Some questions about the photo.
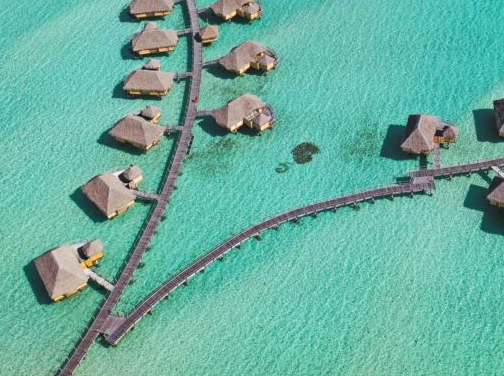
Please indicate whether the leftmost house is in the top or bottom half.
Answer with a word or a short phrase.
bottom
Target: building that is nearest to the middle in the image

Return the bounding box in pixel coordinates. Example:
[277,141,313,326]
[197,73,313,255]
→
[214,95,277,143]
